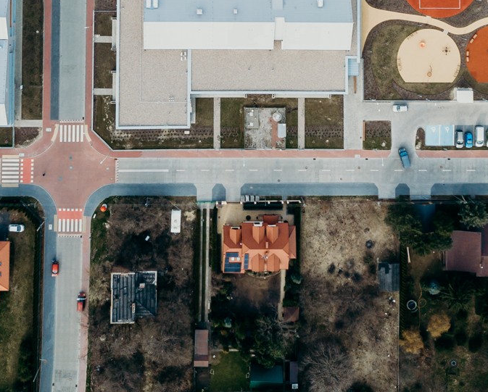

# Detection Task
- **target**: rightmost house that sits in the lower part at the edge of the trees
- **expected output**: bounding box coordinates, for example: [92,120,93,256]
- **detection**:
[444,215,488,276]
